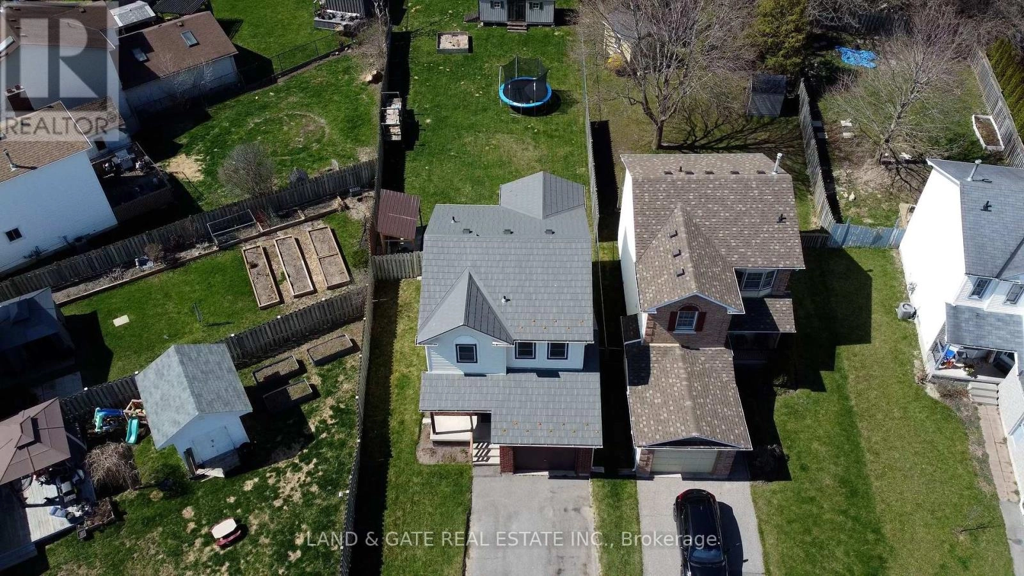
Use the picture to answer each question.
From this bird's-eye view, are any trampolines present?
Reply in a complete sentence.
Yes, there's a trampoline here.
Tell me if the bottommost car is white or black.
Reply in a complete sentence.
The bottommost car is black.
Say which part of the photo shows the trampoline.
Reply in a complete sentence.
You can find the trampoline in the top area of the picture.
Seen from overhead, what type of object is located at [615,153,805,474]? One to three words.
house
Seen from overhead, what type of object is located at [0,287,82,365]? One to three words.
gazebo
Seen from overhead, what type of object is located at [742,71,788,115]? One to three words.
shed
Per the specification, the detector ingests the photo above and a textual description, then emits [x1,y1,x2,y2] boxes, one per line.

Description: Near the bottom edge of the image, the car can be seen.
[672,494,735,576]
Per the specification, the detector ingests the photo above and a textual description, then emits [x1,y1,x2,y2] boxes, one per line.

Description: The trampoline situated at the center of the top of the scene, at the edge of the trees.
[499,52,552,117]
